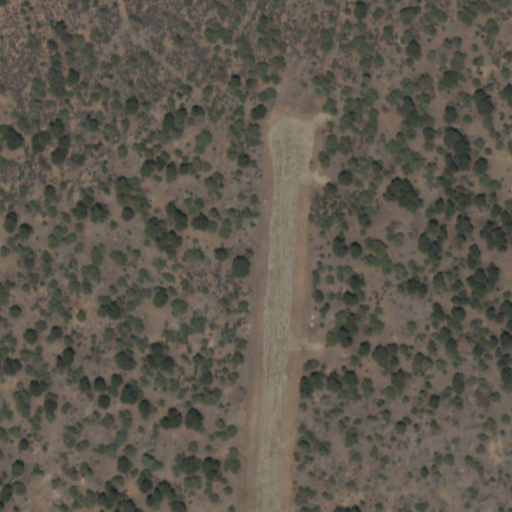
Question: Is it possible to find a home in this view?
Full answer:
No, no home is visible in the view.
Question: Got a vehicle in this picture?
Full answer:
No, there appears to be no vehicle in this shot.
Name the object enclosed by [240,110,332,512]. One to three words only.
runway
